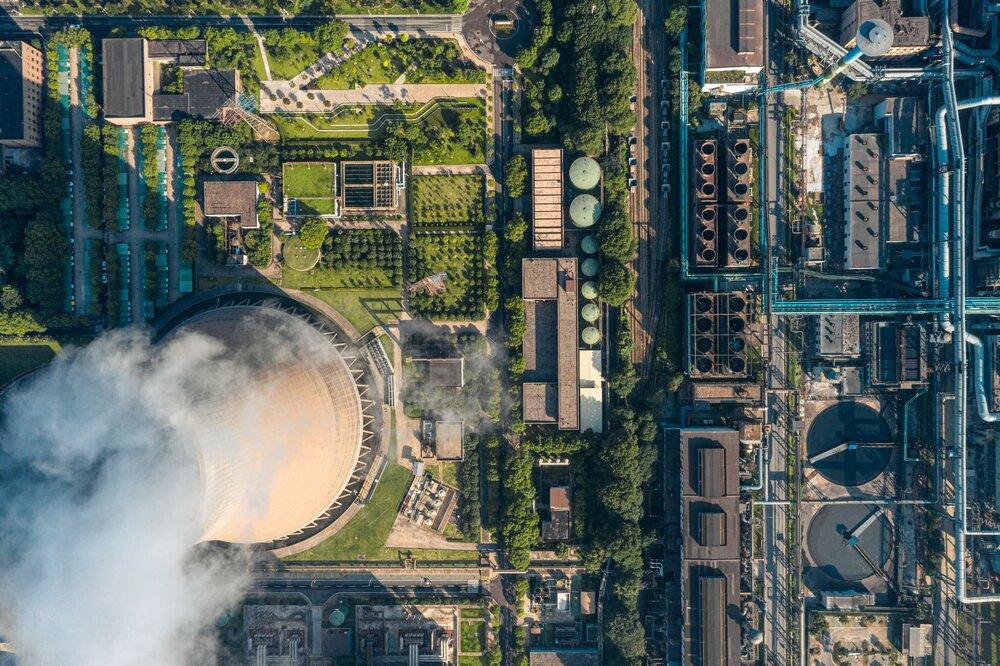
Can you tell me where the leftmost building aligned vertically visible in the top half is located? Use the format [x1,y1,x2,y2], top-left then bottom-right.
[0,48,42,146]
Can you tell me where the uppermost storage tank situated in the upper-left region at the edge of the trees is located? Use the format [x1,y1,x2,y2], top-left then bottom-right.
[208,145,239,174]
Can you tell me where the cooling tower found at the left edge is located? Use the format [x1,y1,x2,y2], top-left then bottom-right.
[0,296,382,604]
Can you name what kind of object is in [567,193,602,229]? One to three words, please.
storage tank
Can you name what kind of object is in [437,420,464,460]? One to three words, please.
house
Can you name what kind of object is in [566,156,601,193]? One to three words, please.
storage tank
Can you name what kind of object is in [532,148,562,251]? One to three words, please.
building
